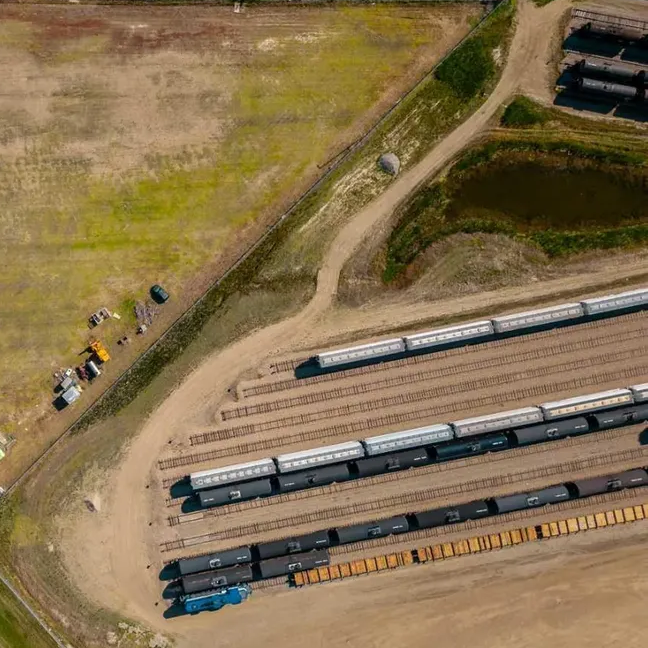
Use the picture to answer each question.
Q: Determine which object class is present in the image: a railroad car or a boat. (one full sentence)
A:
Visible in the photo is a railroad car.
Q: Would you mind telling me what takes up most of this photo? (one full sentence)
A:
For the most part, this view shows paved ground.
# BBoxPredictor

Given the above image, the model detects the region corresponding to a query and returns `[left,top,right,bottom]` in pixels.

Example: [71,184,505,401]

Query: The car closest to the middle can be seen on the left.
[150,283,170,305]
